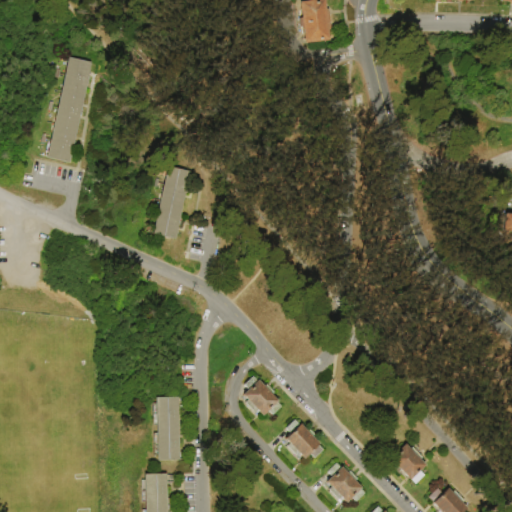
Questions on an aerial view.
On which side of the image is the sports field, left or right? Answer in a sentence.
The sports field appears in the left half of the scene.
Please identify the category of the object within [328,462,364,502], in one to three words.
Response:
house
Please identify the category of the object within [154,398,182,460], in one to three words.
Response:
building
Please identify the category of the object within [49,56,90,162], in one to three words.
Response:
building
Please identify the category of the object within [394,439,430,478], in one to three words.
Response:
house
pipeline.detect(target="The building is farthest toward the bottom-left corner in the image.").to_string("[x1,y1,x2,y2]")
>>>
[142,474,173,512]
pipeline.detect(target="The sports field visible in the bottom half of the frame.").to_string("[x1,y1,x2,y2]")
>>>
[0,310,99,512]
